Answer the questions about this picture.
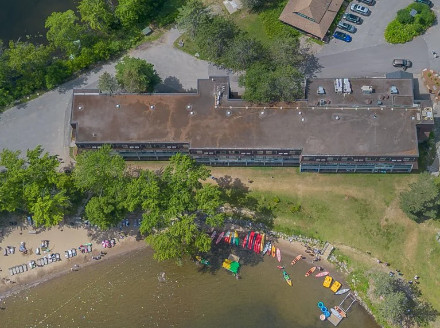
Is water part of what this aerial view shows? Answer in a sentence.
Yes, there's water in this view.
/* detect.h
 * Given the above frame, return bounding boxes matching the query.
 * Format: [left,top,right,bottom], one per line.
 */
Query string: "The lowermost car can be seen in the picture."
[392,58,412,71]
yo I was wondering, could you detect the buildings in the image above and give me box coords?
[69,71,436,180]
[279,0,344,40]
